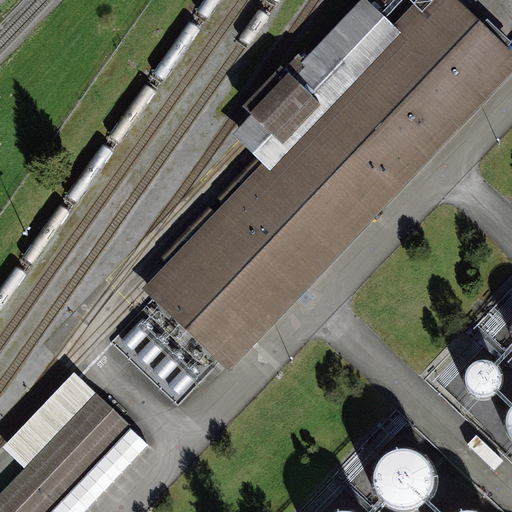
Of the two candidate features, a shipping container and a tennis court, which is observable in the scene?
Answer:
shipping container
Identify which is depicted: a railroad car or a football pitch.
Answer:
railroad car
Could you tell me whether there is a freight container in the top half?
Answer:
No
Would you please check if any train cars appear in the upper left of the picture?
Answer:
Yes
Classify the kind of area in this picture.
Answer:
industrial area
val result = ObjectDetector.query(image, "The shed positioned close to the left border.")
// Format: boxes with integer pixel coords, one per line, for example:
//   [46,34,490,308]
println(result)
[0,394,129,512]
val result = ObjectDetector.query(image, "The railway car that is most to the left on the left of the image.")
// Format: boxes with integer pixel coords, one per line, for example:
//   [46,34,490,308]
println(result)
[0,262,30,313]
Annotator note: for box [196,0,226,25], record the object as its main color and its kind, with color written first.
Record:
white rail car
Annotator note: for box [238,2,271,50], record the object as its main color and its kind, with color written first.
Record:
white rail car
